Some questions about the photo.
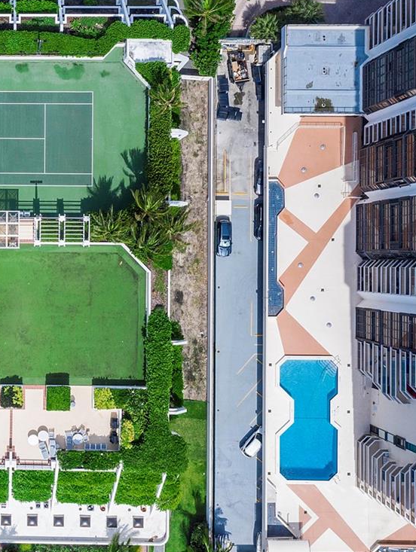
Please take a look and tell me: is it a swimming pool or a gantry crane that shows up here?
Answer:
swimming pool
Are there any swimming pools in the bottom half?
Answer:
Yes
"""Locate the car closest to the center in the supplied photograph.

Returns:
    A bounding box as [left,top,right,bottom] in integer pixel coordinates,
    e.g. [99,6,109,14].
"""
[214,218,233,255]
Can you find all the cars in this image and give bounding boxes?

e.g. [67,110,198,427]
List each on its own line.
[252,159,264,194]
[255,526,264,552]
[252,201,264,240]
[214,218,233,255]
[236,425,264,455]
